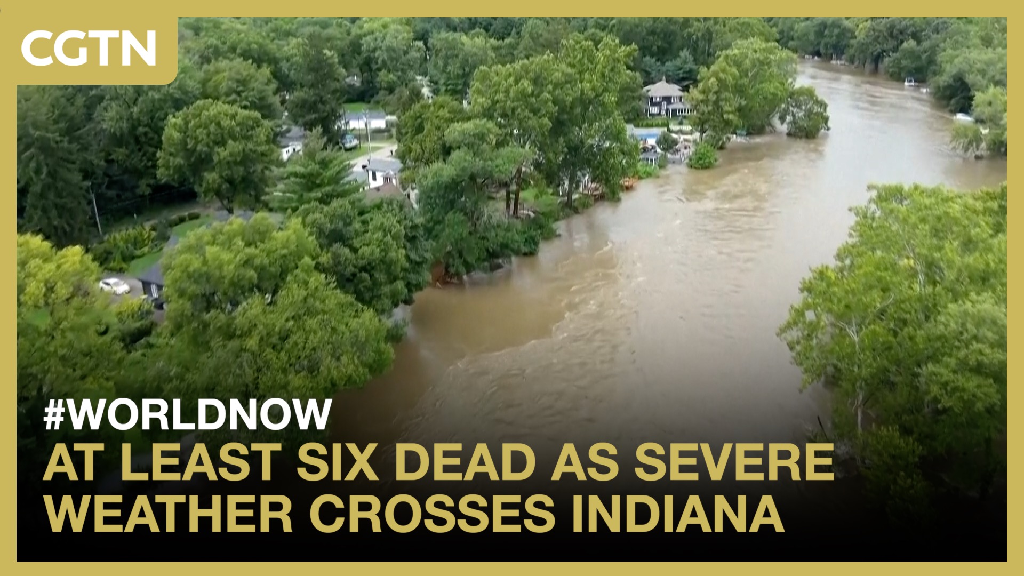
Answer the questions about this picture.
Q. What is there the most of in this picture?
trees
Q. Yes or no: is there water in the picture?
Yes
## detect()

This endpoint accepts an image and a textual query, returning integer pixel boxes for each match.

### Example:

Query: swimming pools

[634,129,667,145]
